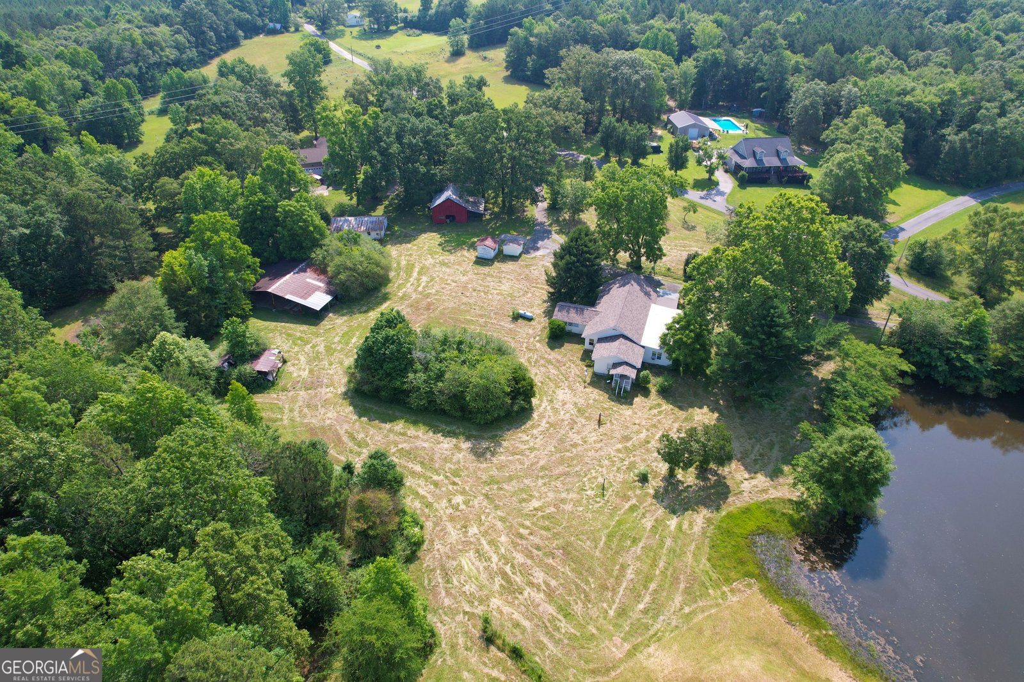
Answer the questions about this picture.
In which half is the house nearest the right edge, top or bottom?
top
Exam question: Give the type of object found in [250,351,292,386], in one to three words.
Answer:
shed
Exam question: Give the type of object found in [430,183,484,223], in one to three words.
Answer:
barn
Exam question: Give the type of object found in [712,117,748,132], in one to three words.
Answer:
swimming pool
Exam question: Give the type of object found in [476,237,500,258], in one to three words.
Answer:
shed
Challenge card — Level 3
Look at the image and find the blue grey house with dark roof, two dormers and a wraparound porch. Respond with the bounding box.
[728,136,811,180]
